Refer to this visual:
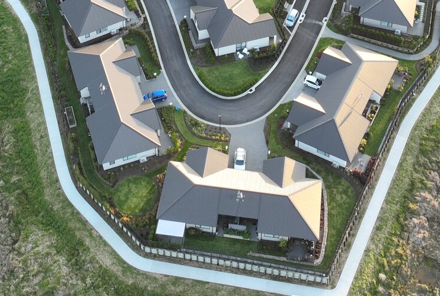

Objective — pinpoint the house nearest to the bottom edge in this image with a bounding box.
[155,140,322,250]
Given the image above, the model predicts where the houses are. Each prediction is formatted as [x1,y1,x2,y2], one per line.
[179,0,274,55]
[61,0,140,43]
[155,140,322,250]
[338,0,417,33]
[274,39,398,167]
[67,36,181,169]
